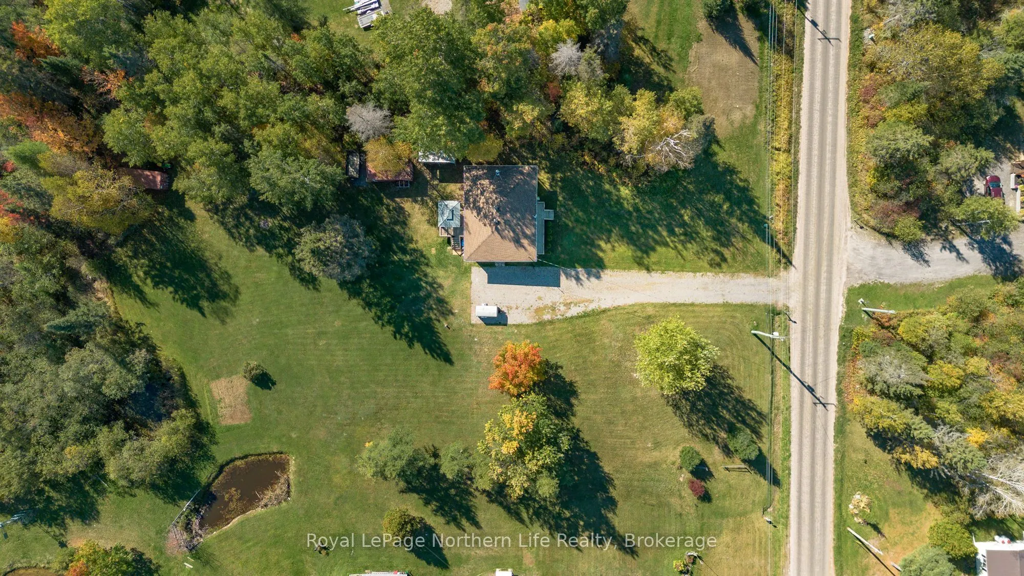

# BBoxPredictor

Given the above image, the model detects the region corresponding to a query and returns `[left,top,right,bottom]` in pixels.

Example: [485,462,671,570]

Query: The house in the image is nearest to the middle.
[464,165,538,262]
